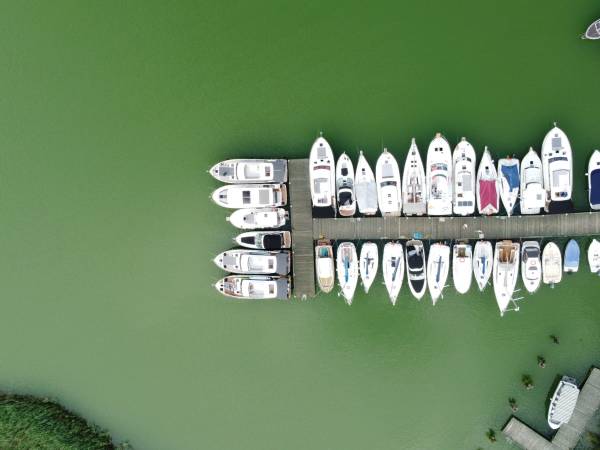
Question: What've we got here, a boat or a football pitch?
boat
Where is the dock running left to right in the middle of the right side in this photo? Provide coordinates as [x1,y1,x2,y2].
[288,158,600,298]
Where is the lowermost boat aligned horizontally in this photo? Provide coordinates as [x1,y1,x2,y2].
[210,274,296,300]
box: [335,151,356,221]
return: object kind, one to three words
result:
boat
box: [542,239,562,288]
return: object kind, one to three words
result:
boat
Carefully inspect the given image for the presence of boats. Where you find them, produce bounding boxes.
[209,250,298,274]
[452,137,476,220]
[425,131,452,220]
[472,236,492,293]
[564,236,580,277]
[336,238,359,306]
[309,132,336,219]
[382,240,404,307]
[233,231,298,249]
[208,183,294,210]
[491,237,524,318]
[359,240,379,295]
[543,123,575,218]
[426,240,450,306]
[335,151,356,221]
[405,240,427,301]
[518,147,544,215]
[550,374,582,429]
[582,22,600,39]
[542,239,562,288]
[205,159,294,183]
[453,239,472,294]
[497,156,522,217]
[520,236,542,294]
[376,148,403,222]
[316,240,336,294]
[401,135,427,221]
[587,235,600,277]
[210,274,296,300]
[226,208,291,228]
